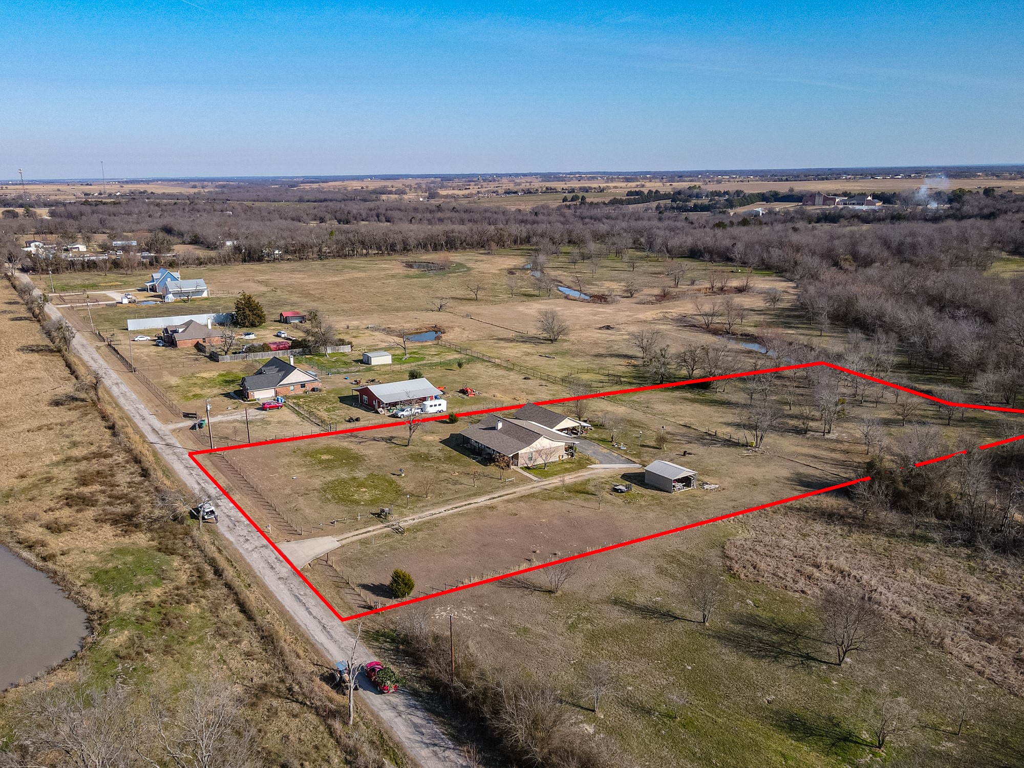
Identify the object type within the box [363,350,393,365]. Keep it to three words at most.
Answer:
shed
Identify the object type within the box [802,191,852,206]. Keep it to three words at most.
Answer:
building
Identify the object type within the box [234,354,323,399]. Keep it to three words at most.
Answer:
house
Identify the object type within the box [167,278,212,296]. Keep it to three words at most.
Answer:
barn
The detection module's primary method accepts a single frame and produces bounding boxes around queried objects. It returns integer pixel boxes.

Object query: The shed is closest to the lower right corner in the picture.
[644,459,697,494]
